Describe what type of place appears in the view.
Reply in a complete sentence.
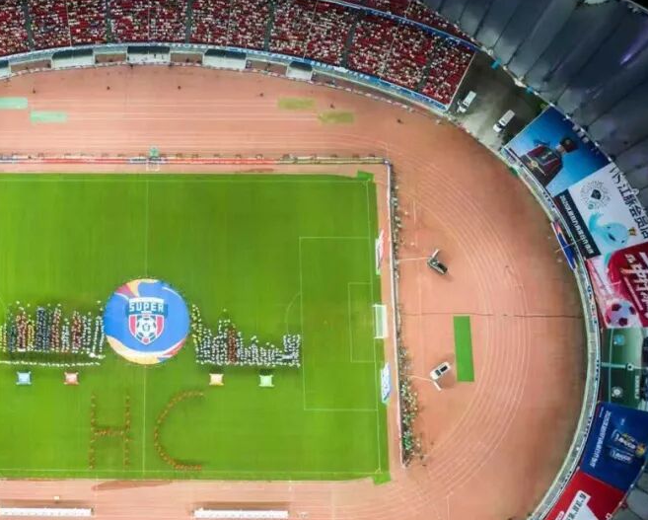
It's a sports ground.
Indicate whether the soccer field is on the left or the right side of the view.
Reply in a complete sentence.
You can find the soccer field on the left side of the picture.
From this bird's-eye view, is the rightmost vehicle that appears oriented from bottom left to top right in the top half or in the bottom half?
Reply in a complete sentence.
The rightmost vehicle that appears oriented from bottom left to top right is in the top half of the image.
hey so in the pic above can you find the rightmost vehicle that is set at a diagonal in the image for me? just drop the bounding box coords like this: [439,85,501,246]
[495,107,518,131]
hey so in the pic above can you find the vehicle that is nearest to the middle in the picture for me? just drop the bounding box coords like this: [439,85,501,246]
[426,254,447,270]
